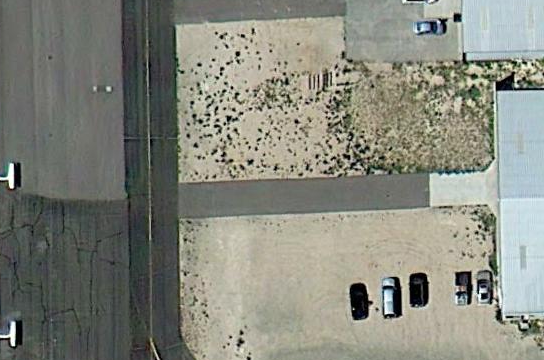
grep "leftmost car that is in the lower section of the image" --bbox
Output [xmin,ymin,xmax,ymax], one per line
[349,284,366,319]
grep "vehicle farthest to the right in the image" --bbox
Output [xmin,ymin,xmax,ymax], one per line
[476,271,492,305]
